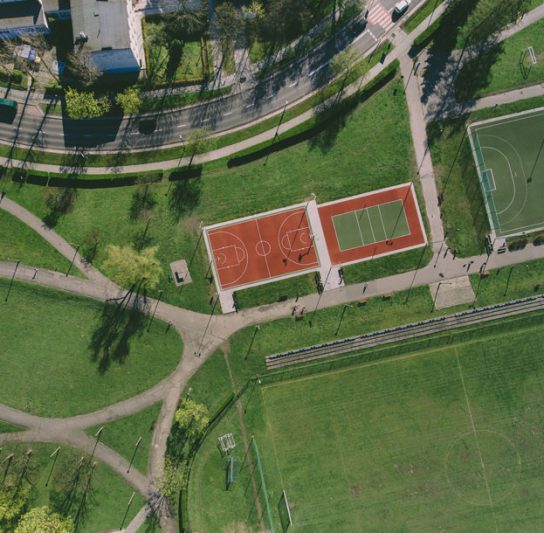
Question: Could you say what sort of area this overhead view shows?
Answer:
sports ground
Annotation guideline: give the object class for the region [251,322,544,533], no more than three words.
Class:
sports field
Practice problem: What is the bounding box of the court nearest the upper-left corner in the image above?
[202,201,321,296]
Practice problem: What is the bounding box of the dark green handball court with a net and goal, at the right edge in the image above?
[469,108,544,240]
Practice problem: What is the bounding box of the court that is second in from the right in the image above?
[316,182,429,266]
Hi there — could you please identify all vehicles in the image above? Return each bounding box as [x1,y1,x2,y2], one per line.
[394,0,414,15]
[0,96,23,111]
